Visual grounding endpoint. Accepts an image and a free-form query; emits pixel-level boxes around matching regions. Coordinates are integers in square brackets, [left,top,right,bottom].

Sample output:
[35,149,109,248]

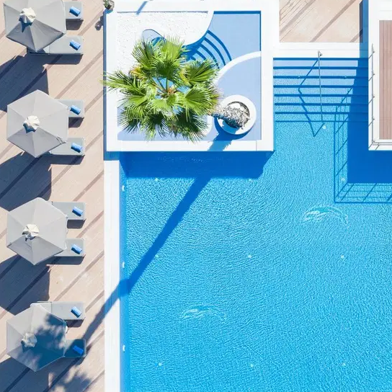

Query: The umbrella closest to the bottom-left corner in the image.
[5,302,68,372]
